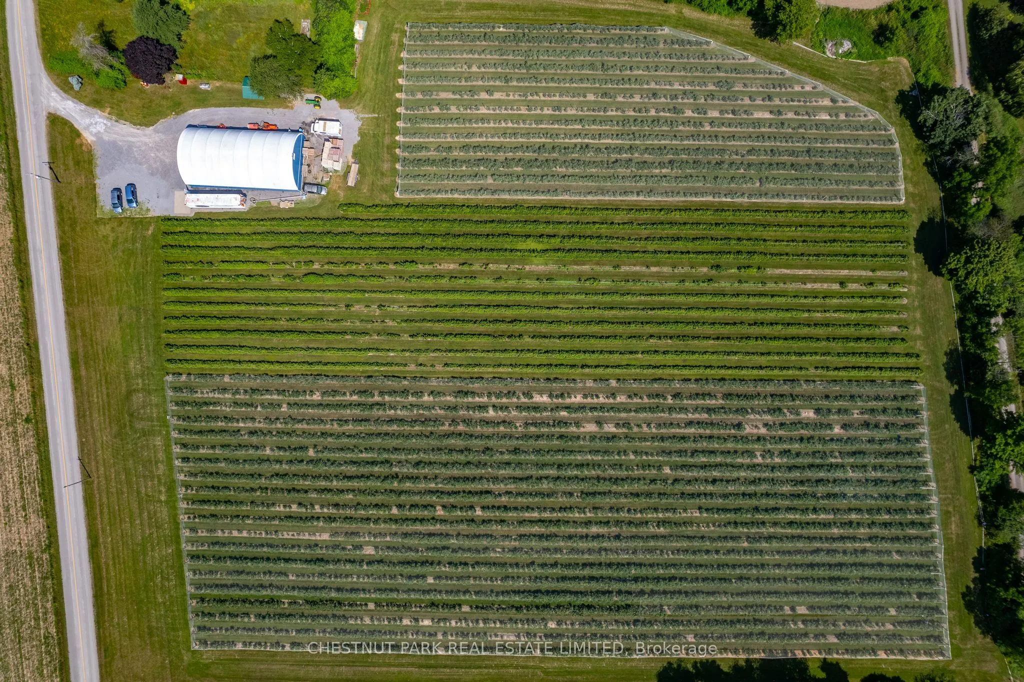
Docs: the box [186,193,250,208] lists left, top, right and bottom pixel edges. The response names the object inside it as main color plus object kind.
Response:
white trailer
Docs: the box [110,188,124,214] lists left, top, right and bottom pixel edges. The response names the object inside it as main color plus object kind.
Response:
blue car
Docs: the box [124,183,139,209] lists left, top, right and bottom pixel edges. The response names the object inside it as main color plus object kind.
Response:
blue car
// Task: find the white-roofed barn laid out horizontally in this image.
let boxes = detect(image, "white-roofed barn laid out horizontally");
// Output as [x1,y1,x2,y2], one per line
[176,126,304,195]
